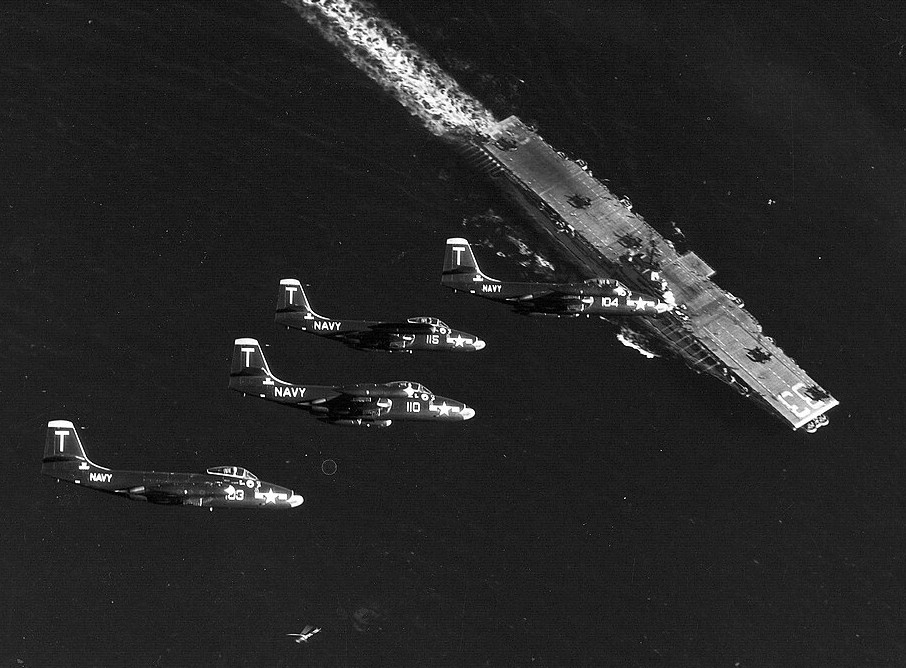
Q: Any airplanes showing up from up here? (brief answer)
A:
Yes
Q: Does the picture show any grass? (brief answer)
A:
No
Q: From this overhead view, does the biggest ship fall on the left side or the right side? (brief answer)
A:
right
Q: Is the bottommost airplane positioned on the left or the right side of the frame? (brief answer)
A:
left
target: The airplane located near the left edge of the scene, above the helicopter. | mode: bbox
[41,420,303,511]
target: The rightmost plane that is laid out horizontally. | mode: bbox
[441,238,670,320]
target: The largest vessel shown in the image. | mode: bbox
[463,116,840,433]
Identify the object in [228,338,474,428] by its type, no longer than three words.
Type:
airplane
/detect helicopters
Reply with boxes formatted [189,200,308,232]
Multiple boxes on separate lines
[291,621,319,645]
